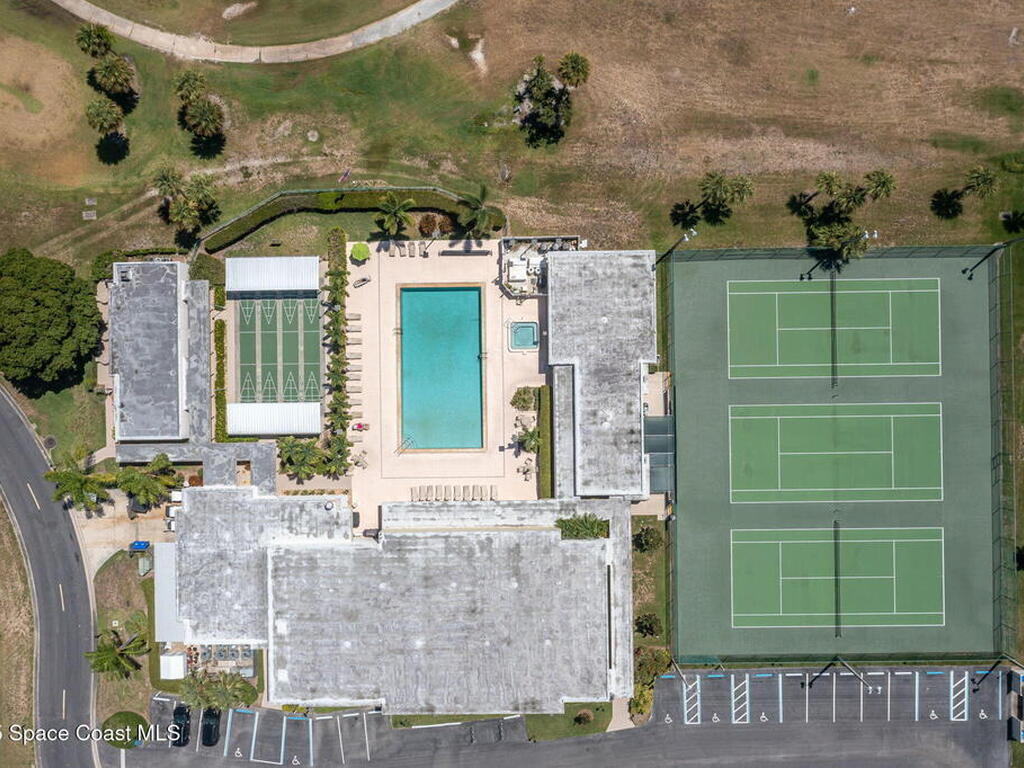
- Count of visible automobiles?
2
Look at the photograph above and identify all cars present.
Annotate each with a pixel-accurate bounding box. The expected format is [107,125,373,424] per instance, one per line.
[170,707,192,748]
[199,708,221,748]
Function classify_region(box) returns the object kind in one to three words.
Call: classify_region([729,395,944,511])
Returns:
tennis court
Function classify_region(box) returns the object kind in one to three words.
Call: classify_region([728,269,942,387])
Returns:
tennis court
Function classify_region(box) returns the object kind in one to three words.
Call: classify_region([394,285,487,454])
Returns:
swimming pool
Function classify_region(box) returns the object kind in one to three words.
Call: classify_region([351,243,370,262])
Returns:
umbrella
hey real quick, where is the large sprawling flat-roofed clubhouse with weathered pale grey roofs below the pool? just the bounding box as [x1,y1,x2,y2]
[154,486,632,714]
